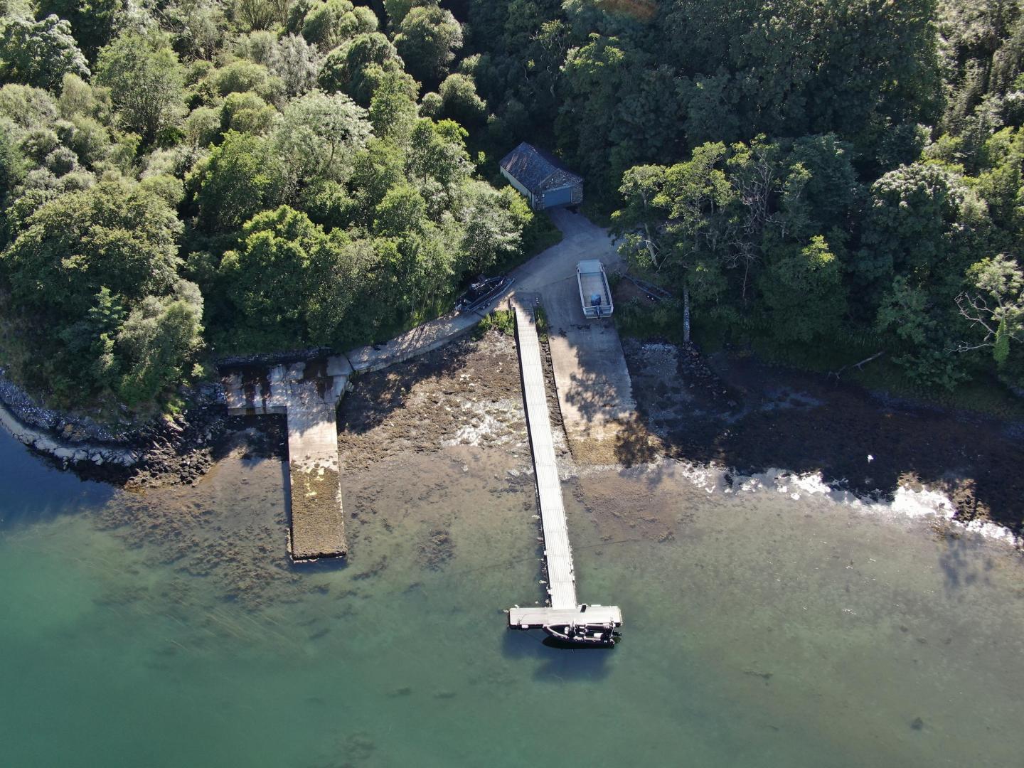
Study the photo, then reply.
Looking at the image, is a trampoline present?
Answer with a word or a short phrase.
No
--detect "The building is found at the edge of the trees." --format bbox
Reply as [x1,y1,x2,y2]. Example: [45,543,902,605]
[500,135,582,212]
